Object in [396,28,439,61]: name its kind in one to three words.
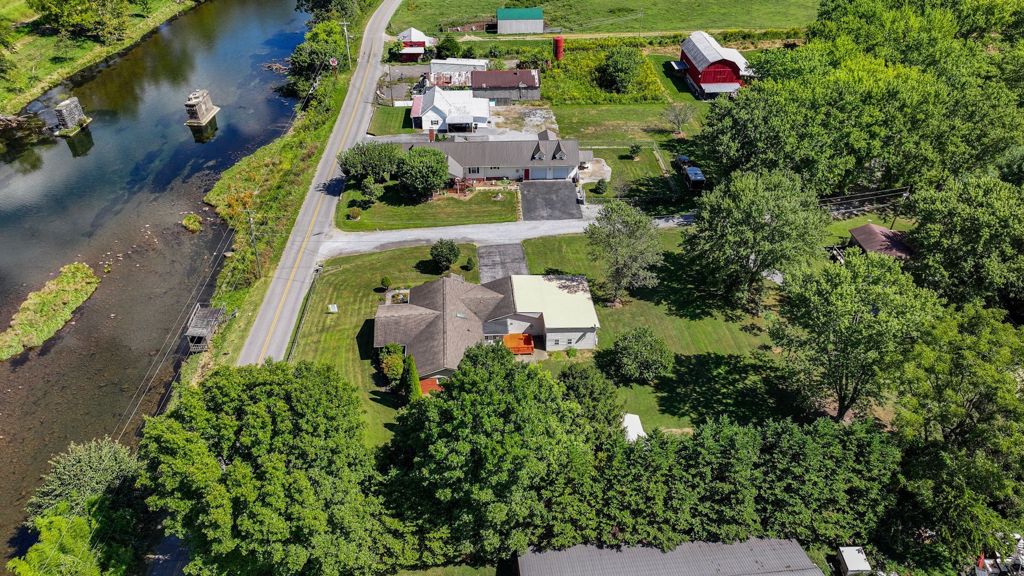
barn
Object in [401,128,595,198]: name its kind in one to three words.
house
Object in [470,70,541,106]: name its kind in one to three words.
shed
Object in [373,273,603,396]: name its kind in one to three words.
house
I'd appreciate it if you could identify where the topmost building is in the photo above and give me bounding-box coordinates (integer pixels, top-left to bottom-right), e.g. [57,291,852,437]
[496,7,545,34]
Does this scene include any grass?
Yes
